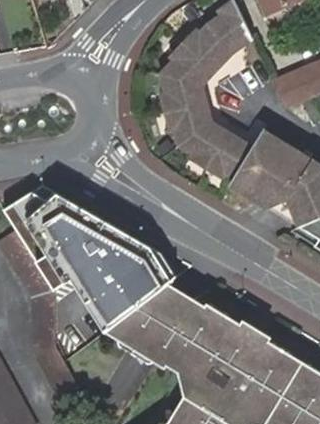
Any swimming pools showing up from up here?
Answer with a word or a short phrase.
No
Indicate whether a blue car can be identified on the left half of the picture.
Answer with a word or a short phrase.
No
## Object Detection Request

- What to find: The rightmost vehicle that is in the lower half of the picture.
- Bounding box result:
[79,314,96,334]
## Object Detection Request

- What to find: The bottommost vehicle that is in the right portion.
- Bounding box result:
[220,92,241,108]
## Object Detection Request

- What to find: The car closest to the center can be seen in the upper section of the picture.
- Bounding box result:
[110,135,128,156]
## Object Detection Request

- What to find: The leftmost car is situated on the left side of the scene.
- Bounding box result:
[64,324,81,344]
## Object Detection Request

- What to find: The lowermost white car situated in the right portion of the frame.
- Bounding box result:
[242,70,258,90]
